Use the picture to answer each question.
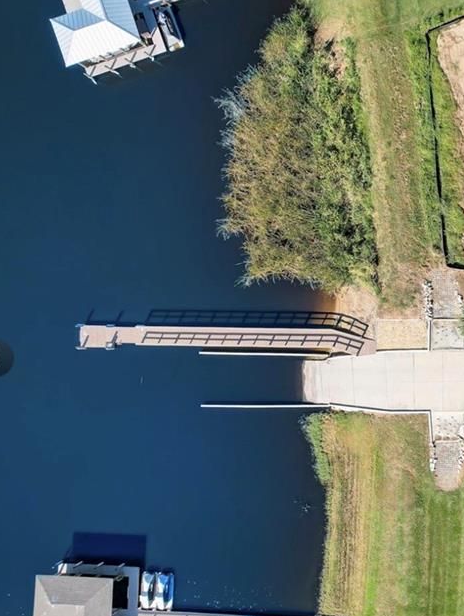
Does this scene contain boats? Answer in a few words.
Yes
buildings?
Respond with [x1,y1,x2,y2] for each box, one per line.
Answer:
[49,0,168,76]
[34,562,141,616]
